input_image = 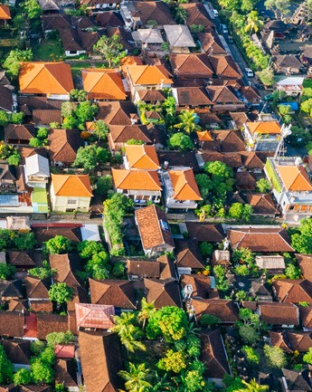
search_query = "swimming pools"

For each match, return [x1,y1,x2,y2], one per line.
[272,99,310,111]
